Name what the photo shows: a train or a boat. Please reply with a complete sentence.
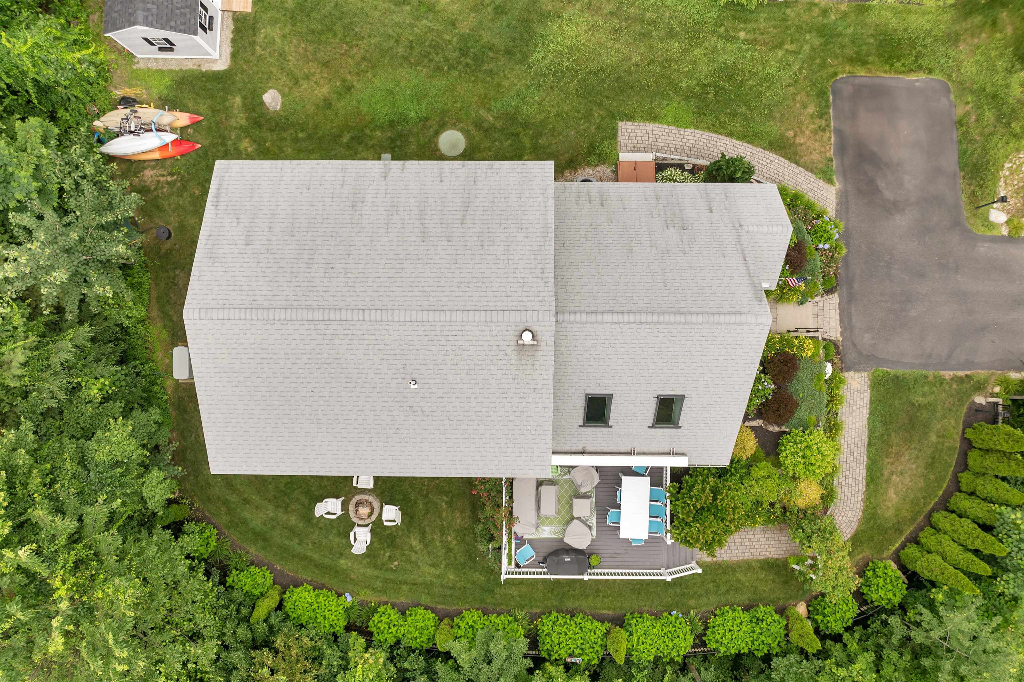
The one in the frame is a boat.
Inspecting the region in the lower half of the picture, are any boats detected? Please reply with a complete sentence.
No, the scene shows no boat in the lower half of the picture.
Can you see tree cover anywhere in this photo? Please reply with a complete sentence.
Yes, tree cover can be seen from above here.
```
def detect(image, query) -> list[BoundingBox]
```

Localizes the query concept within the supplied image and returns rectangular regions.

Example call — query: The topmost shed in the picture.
[103,0,220,58]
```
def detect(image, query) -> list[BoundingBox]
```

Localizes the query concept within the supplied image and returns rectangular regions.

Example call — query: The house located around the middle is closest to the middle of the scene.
[183,158,794,476]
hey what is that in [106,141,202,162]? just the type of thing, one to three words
boat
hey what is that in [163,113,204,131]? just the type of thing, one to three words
boat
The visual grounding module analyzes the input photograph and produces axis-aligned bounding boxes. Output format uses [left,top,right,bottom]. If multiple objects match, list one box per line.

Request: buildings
[103,0,220,58]
[183,158,794,476]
